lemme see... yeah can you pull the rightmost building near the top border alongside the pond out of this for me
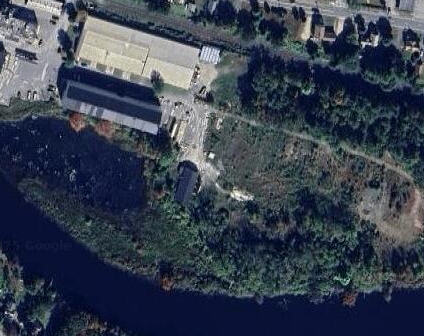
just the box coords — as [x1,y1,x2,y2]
[77,16,200,89]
